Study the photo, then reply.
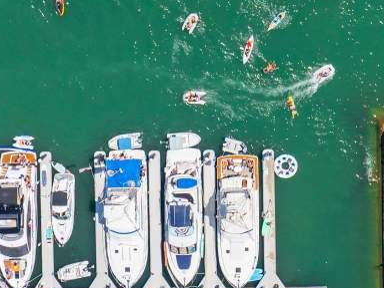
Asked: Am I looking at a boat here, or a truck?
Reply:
boat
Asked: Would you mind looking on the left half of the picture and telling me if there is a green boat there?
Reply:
No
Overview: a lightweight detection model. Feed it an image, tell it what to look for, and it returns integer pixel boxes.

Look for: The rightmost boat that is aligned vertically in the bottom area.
[216,150,263,288]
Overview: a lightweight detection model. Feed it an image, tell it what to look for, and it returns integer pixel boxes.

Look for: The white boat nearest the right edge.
[311,65,333,86]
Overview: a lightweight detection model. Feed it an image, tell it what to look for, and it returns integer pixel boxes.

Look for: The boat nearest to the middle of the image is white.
[165,131,200,146]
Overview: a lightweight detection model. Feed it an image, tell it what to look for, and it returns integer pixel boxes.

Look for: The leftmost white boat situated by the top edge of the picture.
[179,13,199,35]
